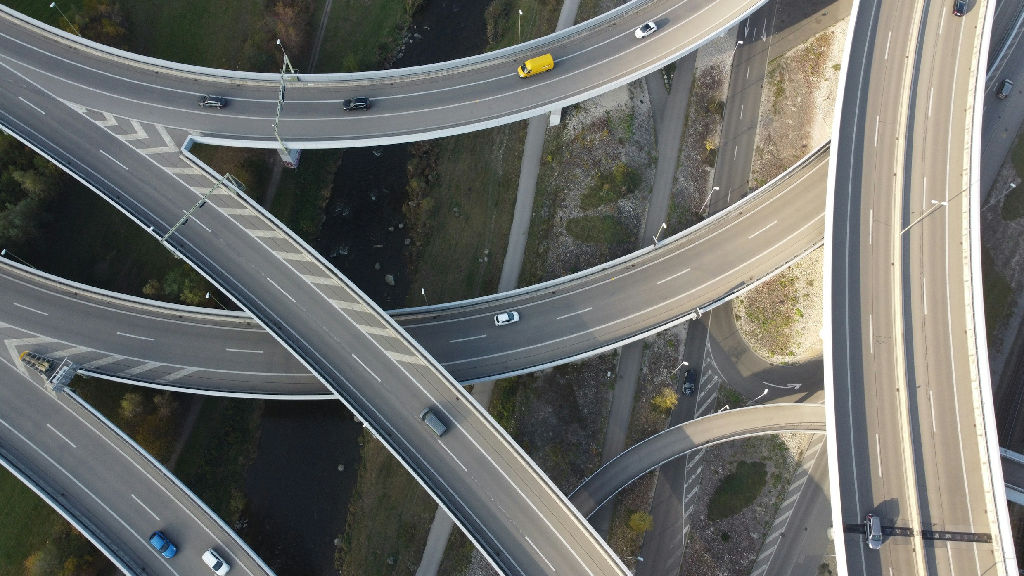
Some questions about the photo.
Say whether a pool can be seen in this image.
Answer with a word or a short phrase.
No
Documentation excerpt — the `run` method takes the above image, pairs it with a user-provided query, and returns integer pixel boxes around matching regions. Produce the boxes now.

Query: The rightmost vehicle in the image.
[996,81,1013,99]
